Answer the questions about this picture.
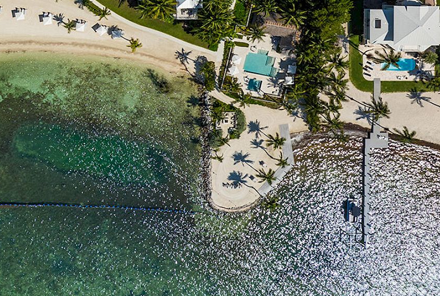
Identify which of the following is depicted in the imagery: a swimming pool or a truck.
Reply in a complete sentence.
The one in the frame is a swimming pool.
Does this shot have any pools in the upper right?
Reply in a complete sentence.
Yes, a pool can be seen in the upper right.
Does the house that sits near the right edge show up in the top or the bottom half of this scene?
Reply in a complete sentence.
Seen from above, the house that sits near the right edge lies in the top half of the view.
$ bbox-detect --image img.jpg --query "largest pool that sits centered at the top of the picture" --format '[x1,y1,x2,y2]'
[226,35,298,97]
